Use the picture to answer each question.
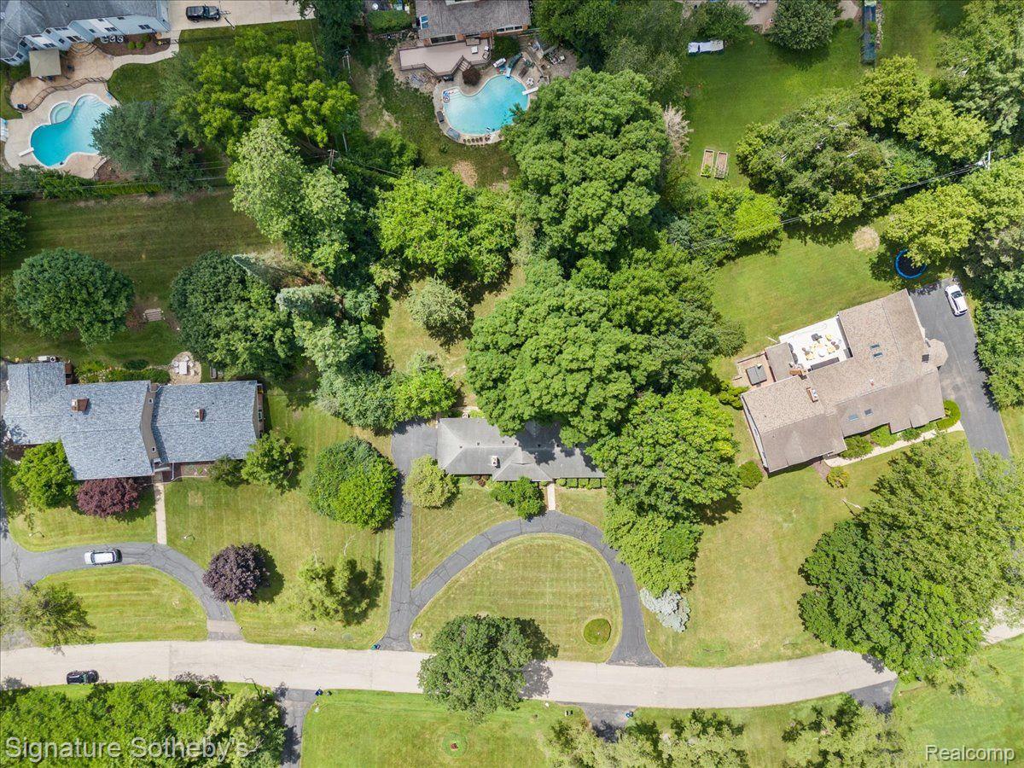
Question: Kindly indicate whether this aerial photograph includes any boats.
No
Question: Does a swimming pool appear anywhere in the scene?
Yes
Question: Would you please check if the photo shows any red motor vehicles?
No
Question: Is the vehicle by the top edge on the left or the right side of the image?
left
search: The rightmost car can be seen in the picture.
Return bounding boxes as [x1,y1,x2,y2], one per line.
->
[943,282,968,318]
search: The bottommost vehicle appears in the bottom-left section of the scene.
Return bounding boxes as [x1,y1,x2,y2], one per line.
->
[66,669,100,686]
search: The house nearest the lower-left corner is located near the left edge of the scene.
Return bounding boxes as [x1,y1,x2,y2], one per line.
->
[3,360,263,480]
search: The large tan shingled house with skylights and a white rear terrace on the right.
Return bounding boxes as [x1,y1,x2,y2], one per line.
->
[740,289,947,475]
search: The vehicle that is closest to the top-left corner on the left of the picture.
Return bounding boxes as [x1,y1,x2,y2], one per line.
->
[185,3,223,23]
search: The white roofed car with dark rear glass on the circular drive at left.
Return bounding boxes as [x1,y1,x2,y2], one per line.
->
[86,548,123,566]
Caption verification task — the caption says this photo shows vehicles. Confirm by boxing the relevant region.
[185,3,223,23]
[86,548,123,566]
[943,282,968,318]
[66,669,100,686]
